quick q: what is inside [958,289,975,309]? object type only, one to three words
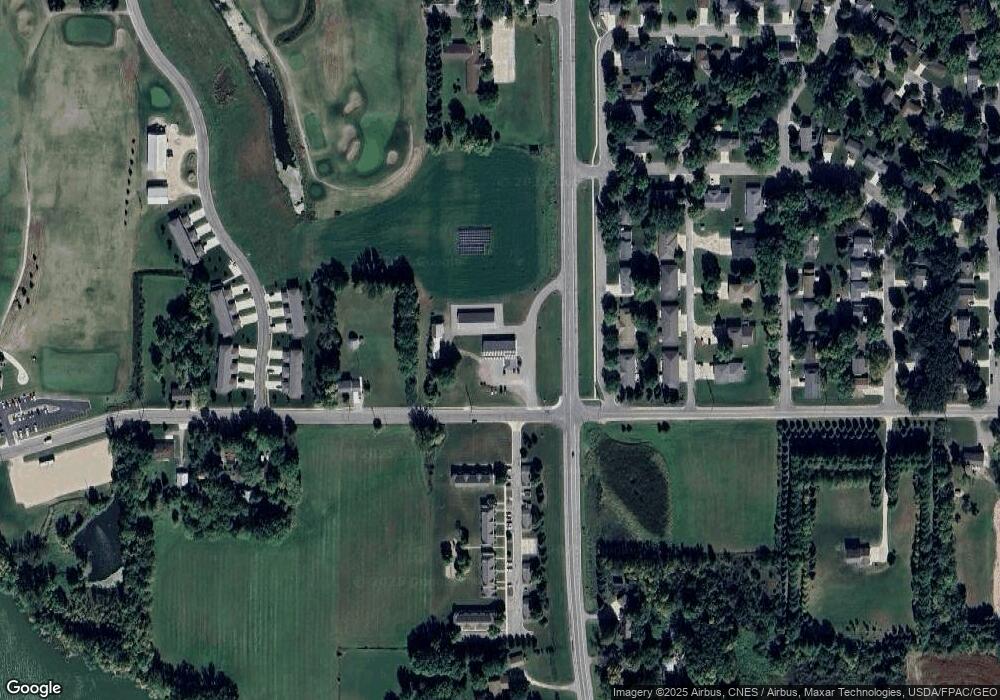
house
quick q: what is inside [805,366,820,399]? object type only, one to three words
house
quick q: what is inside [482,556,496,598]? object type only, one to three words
building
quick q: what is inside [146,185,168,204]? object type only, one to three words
barn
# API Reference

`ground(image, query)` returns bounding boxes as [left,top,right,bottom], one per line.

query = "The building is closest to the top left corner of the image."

[147,132,167,172]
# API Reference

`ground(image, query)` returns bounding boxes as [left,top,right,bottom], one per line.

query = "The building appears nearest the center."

[482,338,515,350]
